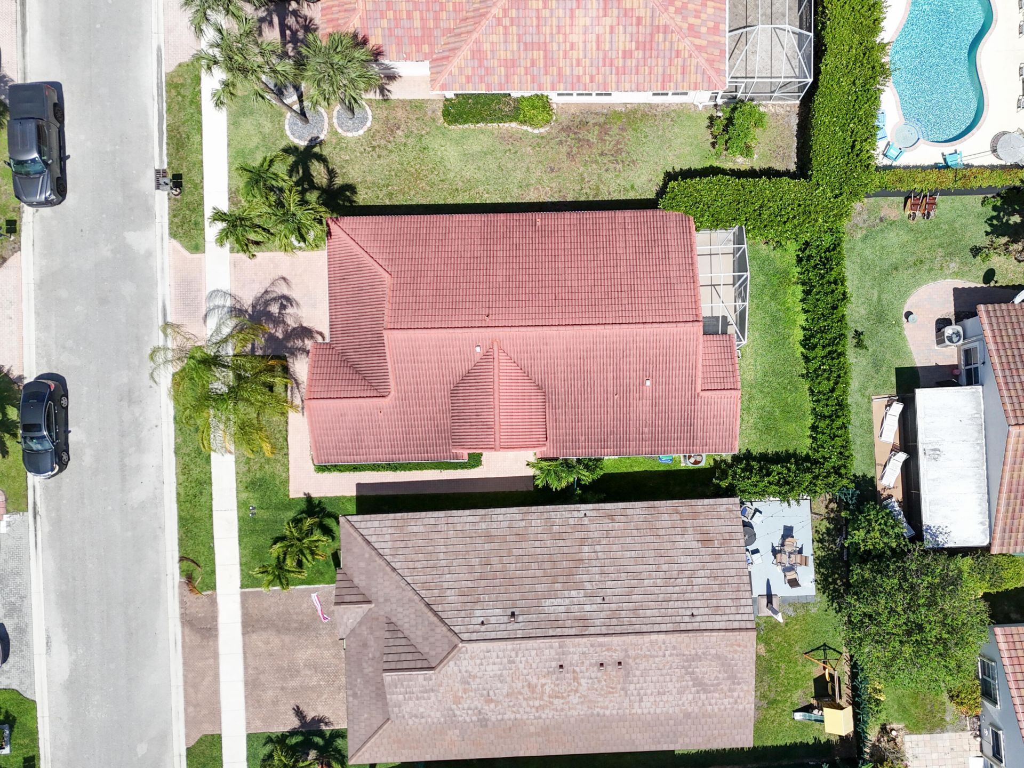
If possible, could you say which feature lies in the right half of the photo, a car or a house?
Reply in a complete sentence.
There is a house in the right half of the photo.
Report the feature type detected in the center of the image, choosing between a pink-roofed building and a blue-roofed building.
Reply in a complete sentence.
What appears in the center of the image is a pink-roofed building.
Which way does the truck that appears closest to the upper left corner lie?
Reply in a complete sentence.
In this picture, the truck that appears closest to the upper left corner lies from top to bottom.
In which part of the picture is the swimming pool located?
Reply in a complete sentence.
You can find the swimming pool in the top right area of the picture.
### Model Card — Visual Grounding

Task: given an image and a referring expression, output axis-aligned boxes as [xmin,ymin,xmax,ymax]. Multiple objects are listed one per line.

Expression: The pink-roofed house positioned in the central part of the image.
[303,209,743,465]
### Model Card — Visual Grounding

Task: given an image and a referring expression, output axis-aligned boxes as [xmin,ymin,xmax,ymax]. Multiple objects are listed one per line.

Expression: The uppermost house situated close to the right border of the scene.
[873,304,1024,555]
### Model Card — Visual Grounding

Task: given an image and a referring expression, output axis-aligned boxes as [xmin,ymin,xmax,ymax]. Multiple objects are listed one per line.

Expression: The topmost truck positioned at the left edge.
[4,84,67,208]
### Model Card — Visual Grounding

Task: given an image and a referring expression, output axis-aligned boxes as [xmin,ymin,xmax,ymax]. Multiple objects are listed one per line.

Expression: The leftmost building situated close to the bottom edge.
[333,498,757,765]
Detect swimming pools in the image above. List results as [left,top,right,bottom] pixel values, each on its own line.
[885,0,1000,152]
